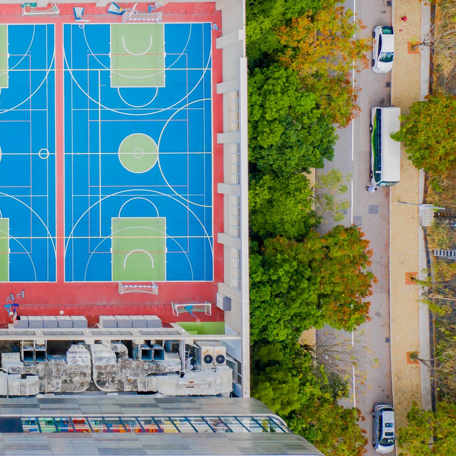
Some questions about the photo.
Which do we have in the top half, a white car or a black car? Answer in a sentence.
Visible in the top half is a white car.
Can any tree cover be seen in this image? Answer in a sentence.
Yes, tree cover shows up in the scene.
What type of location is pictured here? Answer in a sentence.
This looks like a sports ground.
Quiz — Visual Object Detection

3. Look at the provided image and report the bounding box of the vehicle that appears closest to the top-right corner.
[372,26,399,72]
